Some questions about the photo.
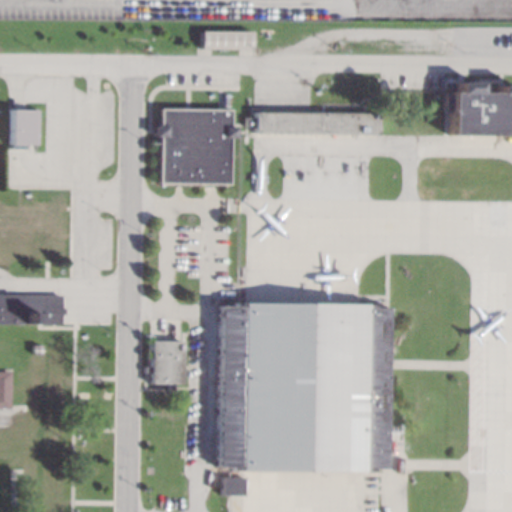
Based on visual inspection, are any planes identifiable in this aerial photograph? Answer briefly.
Yes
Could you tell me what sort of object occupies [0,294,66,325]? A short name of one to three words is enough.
building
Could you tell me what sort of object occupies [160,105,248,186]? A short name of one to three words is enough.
building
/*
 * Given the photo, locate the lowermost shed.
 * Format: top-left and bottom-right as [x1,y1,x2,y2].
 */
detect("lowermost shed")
[222,476,246,496]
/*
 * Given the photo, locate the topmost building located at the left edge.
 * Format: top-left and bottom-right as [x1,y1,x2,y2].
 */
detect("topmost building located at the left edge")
[8,109,42,152]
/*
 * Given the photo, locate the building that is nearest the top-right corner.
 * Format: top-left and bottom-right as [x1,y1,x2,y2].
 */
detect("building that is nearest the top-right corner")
[446,84,512,136]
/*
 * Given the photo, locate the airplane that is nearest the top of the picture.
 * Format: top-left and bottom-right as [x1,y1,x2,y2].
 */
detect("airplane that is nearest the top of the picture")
[253,156,270,194]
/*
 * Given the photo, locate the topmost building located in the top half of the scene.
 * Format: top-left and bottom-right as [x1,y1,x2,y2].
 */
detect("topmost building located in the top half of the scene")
[199,30,256,54]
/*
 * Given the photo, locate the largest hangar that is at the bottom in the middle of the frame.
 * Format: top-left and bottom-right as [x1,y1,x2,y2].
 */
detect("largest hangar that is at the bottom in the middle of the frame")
[217,302,392,472]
